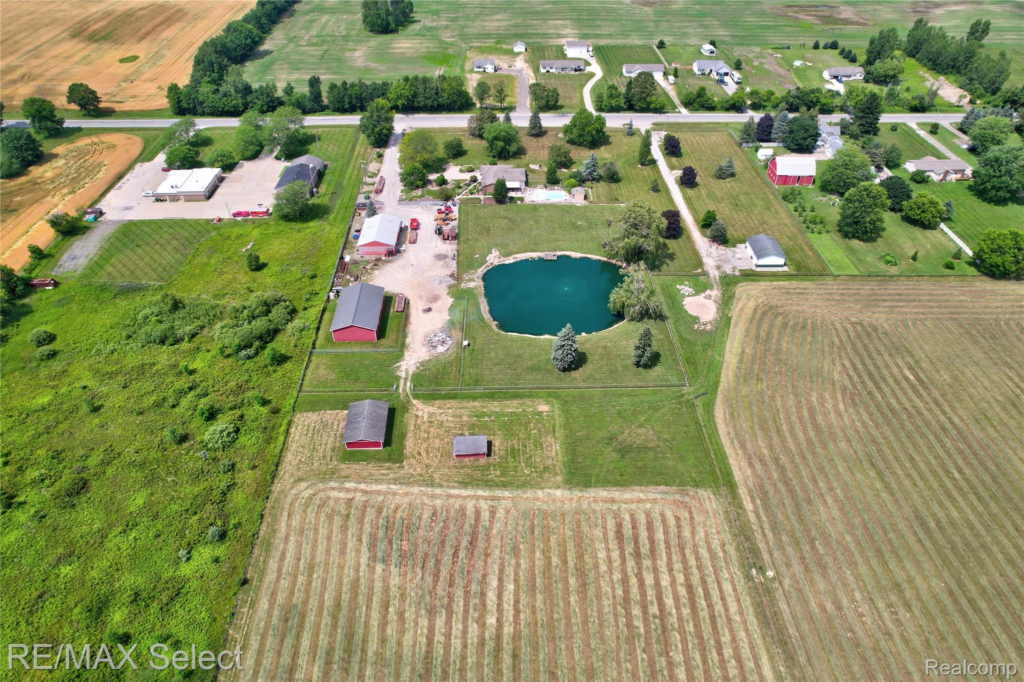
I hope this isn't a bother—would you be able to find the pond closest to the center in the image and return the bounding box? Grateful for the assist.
[482,254,631,337]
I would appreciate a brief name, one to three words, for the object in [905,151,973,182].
house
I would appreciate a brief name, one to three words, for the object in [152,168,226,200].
building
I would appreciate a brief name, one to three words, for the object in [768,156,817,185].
barn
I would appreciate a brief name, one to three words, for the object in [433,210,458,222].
vehicle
